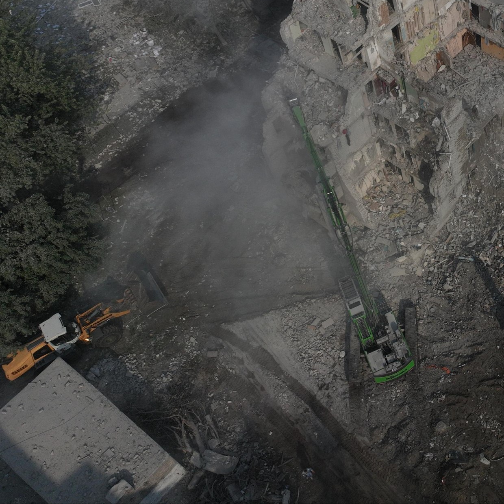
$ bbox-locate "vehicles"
[286,92,421,389]
[8,284,155,390]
